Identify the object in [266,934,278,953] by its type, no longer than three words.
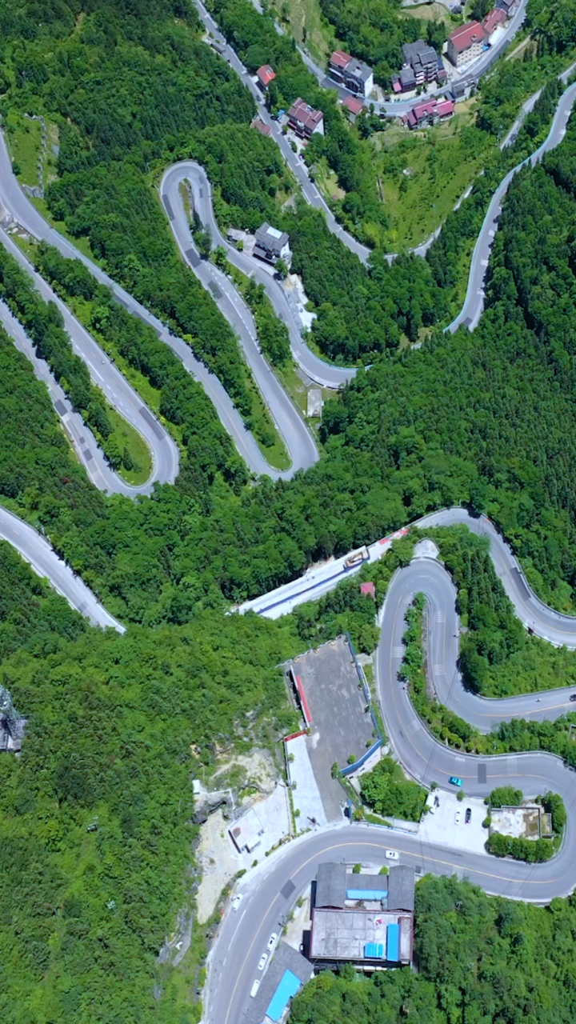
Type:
vehicle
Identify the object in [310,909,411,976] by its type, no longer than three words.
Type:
building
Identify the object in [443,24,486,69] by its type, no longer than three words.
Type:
house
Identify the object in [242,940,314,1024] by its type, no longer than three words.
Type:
building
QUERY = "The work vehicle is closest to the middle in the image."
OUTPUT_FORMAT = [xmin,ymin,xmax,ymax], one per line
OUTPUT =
[343,550,371,568]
